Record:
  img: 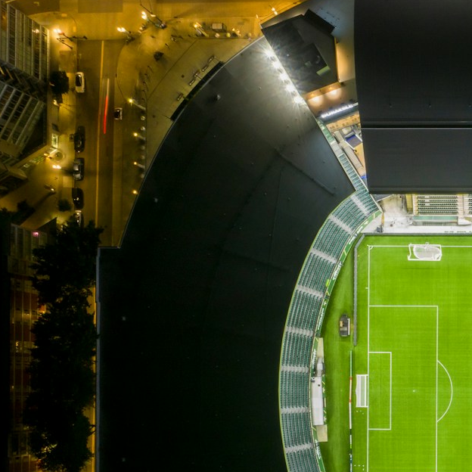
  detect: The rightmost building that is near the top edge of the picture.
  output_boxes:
[263,9,353,98]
